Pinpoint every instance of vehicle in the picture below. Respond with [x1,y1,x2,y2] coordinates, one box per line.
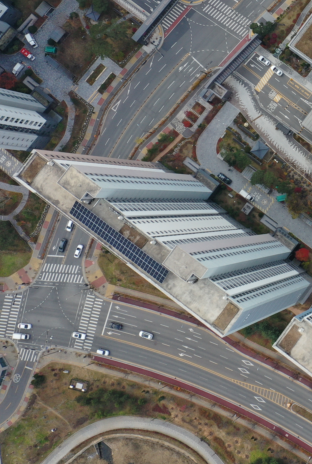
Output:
[66,222,73,233]
[21,32,37,48]
[74,244,85,258]
[270,65,283,76]
[19,48,35,59]
[10,333,30,340]
[217,173,231,184]
[72,333,87,339]
[139,331,153,340]
[237,189,255,201]
[17,323,33,331]
[109,322,124,329]
[258,55,271,67]
[12,60,23,77]
[58,238,68,252]
[95,349,111,356]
